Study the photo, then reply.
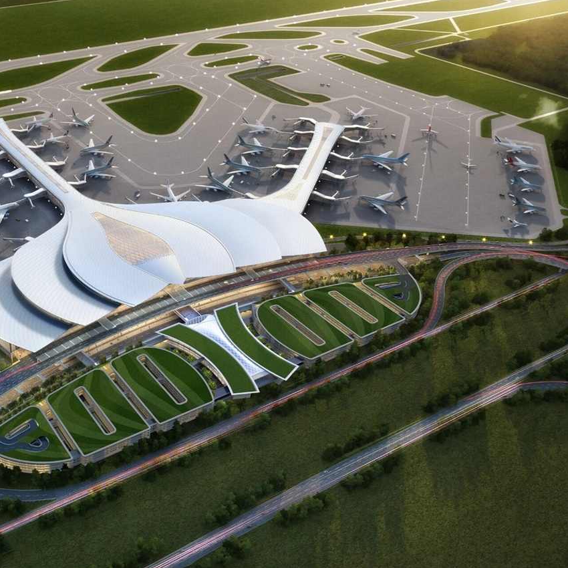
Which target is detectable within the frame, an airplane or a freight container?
airplane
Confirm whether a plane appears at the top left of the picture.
Yes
